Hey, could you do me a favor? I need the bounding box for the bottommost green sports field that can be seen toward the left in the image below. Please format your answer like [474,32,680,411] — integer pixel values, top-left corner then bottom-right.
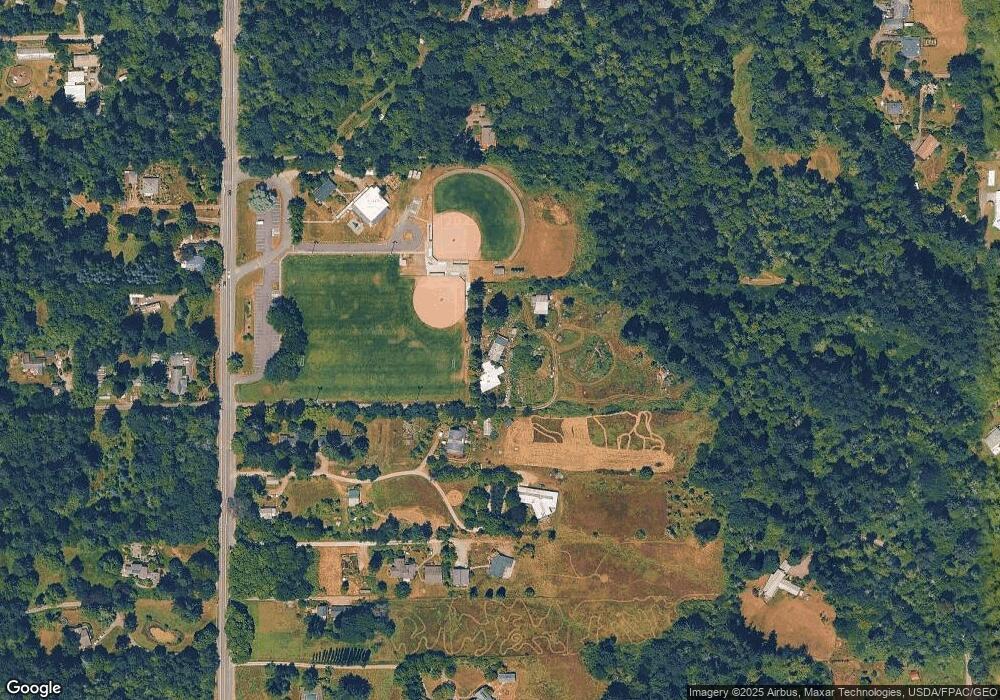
[238,255,467,400]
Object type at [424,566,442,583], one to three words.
barn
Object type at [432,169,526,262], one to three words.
baseball field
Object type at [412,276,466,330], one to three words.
baseball field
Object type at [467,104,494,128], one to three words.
house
